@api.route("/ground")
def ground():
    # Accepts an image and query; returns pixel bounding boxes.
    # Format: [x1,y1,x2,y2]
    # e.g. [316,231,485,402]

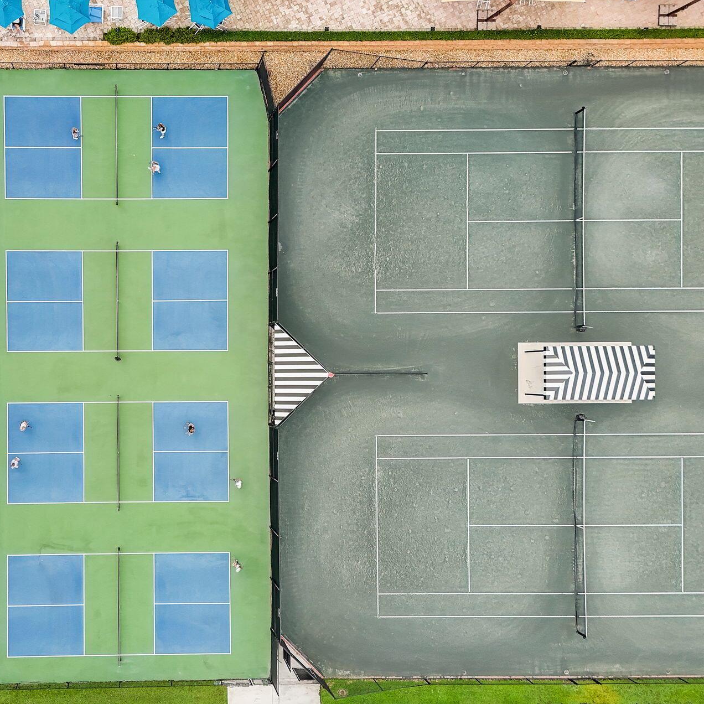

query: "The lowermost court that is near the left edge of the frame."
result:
[0,528,272,684]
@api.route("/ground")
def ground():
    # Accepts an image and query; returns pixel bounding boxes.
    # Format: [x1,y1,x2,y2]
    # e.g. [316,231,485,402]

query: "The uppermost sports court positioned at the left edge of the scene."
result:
[0,70,271,225]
